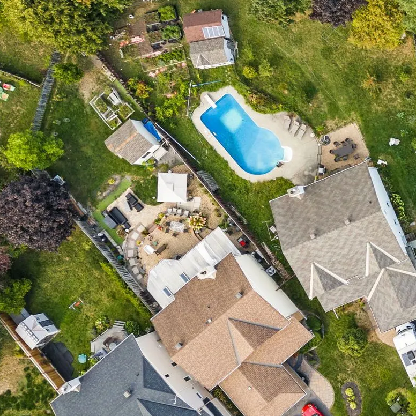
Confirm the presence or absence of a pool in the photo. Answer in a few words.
Yes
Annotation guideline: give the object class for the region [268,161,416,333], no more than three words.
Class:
house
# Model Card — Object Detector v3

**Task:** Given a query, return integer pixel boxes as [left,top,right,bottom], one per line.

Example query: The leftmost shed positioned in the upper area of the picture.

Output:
[105,119,164,164]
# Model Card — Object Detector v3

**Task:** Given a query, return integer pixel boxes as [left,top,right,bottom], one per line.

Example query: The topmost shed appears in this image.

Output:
[181,9,232,43]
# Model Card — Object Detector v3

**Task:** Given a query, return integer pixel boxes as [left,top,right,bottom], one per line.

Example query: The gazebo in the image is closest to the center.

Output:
[157,174,195,203]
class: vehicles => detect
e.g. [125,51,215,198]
[395,321,416,391]
[300,402,323,416]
